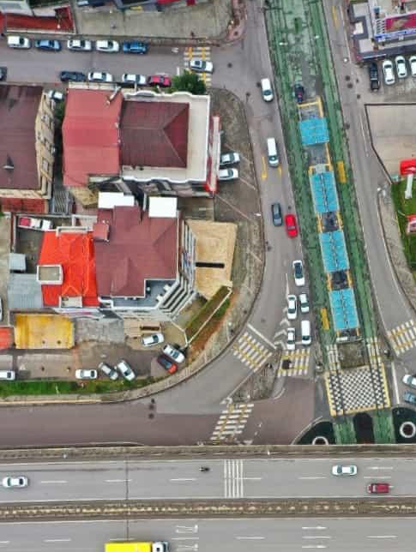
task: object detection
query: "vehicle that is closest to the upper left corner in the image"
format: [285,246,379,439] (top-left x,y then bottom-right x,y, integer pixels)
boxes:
[6,38,32,51]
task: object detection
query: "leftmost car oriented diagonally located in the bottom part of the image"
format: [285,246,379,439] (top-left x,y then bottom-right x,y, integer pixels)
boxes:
[98,361,119,382]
